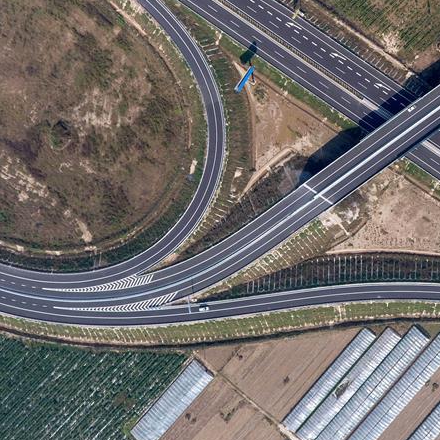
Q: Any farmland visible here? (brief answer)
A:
Yes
